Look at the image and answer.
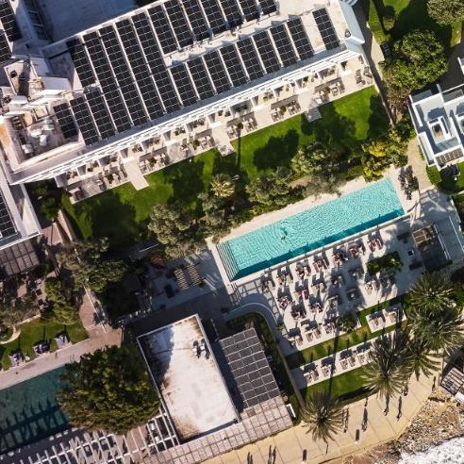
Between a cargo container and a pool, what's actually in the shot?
pool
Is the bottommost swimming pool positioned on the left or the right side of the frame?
left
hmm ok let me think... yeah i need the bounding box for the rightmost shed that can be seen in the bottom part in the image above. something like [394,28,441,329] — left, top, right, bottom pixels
[441,363,464,395]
